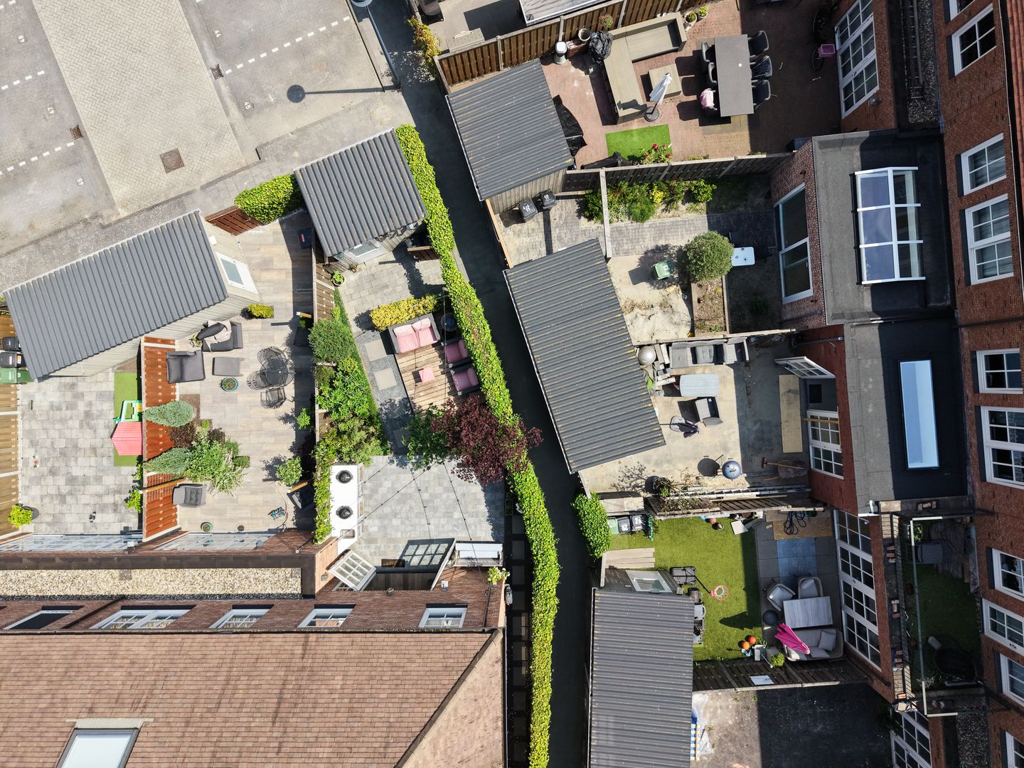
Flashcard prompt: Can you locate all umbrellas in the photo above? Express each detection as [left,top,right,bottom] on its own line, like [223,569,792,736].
[645,80,671,122]
[771,617,811,654]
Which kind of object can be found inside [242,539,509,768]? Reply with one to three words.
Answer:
house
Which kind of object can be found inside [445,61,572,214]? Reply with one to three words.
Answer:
shed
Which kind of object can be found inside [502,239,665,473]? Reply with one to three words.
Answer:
shed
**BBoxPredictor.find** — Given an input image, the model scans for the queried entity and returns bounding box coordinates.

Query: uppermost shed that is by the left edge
[2,208,257,379]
